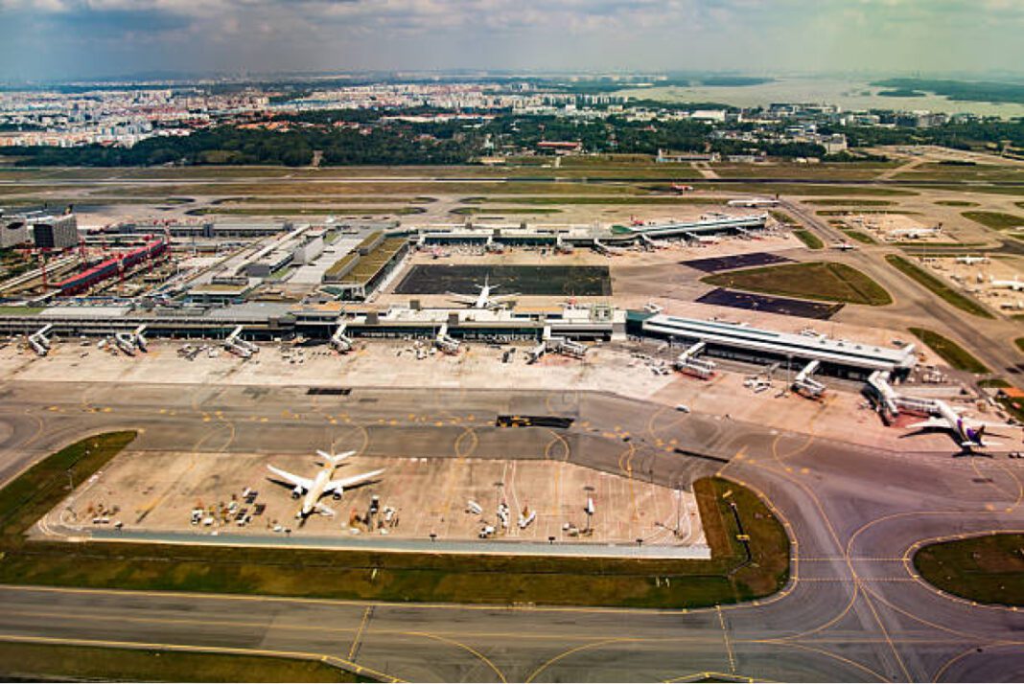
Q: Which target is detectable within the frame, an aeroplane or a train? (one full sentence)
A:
Visible in the photo is an aeroplane.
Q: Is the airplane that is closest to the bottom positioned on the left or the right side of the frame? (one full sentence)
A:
The airplane that is closest to the bottom appears in the left half of the scene.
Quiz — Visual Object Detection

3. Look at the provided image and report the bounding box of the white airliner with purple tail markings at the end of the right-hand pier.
[904,400,1024,444]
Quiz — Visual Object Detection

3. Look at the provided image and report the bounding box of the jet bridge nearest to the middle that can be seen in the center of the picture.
[526,328,553,360]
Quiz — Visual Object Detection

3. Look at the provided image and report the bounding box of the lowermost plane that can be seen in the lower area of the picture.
[260,436,383,521]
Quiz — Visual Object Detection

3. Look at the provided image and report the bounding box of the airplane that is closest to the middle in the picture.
[449,271,522,309]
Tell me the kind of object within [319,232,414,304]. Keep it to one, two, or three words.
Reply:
building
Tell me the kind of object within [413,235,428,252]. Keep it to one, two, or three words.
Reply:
jet bridge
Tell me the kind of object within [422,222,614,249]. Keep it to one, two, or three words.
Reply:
building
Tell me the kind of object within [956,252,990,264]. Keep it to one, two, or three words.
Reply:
airplane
